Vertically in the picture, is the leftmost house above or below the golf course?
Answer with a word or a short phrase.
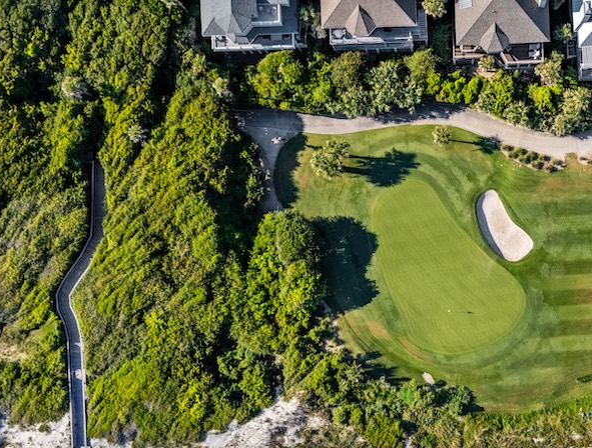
above it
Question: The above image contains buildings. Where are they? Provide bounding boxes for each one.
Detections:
[320,0,428,55]
[201,0,309,56]
[563,0,592,84]
[453,0,550,69]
